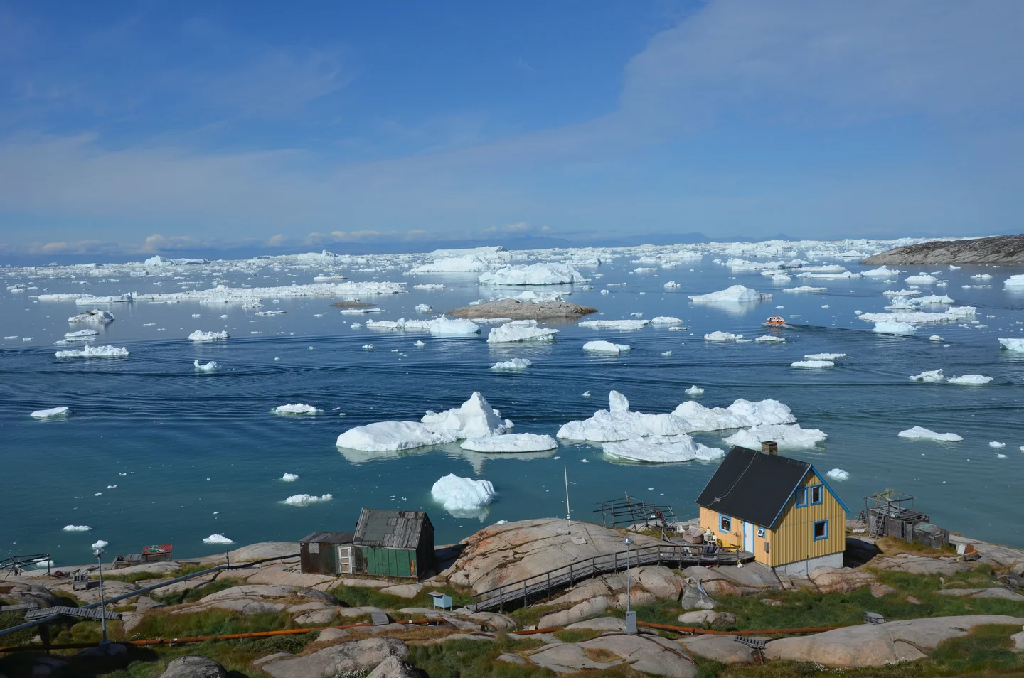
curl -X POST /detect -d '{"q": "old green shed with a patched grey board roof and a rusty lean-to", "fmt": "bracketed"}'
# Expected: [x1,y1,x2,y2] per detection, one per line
[297,506,434,580]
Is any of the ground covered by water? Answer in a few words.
Yes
